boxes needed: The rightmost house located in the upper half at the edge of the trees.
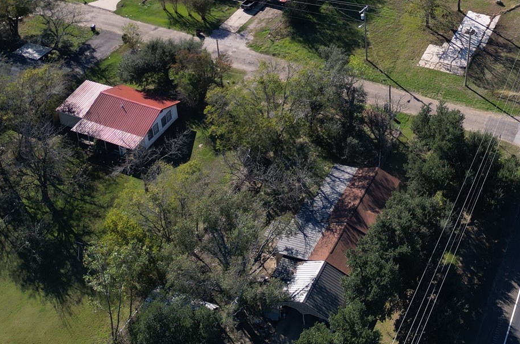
[58,83,178,169]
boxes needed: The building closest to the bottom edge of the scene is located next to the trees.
[282,248,351,322]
